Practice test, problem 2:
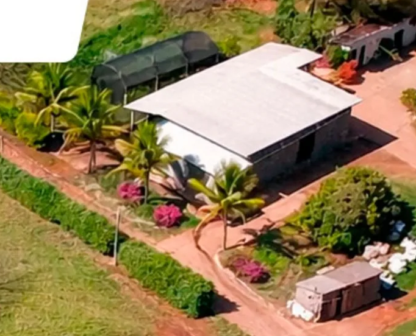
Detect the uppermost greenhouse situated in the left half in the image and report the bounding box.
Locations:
[85,22,223,105]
